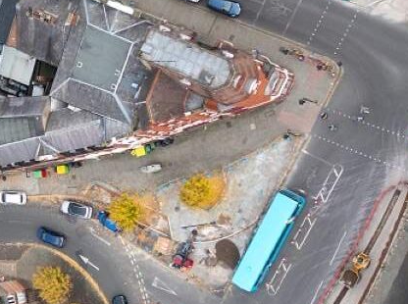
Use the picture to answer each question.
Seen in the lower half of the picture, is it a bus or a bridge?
bus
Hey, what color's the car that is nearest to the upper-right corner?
blue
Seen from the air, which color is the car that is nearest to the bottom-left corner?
blue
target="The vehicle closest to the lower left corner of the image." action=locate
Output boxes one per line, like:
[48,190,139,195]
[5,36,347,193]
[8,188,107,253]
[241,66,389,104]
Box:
[37,226,67,246]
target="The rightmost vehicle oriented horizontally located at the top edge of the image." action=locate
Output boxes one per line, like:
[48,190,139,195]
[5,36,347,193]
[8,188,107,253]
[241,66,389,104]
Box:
[205,0,244,20]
